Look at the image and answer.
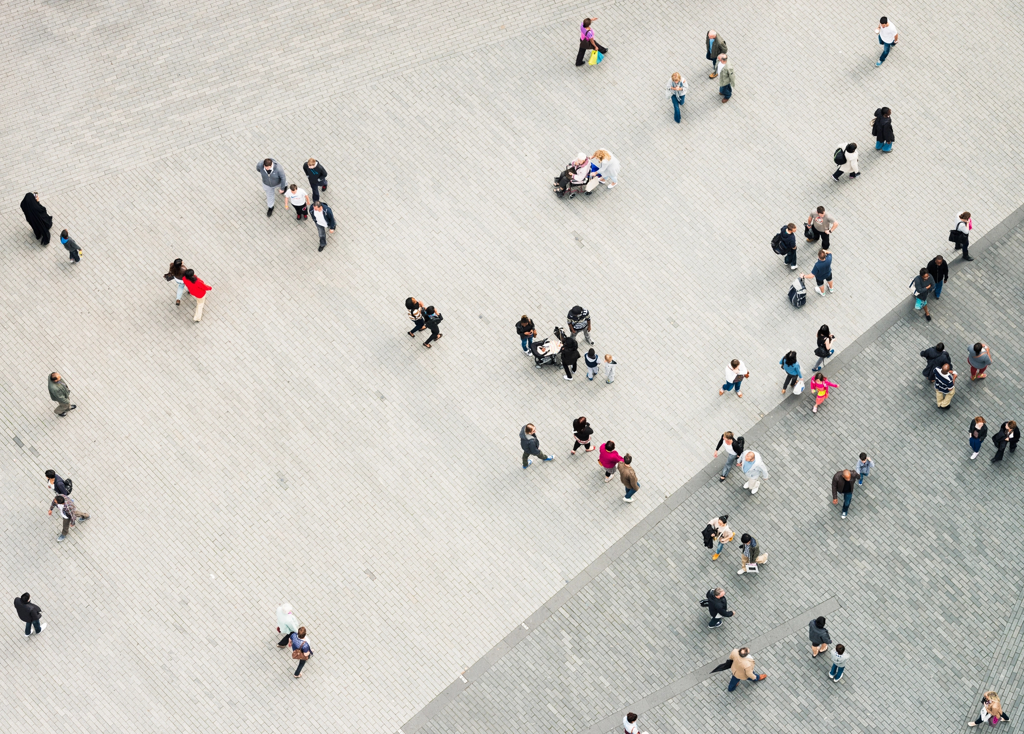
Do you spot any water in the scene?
No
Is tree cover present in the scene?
No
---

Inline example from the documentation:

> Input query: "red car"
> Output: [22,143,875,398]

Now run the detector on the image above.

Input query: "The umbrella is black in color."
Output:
[708,661,730,675]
